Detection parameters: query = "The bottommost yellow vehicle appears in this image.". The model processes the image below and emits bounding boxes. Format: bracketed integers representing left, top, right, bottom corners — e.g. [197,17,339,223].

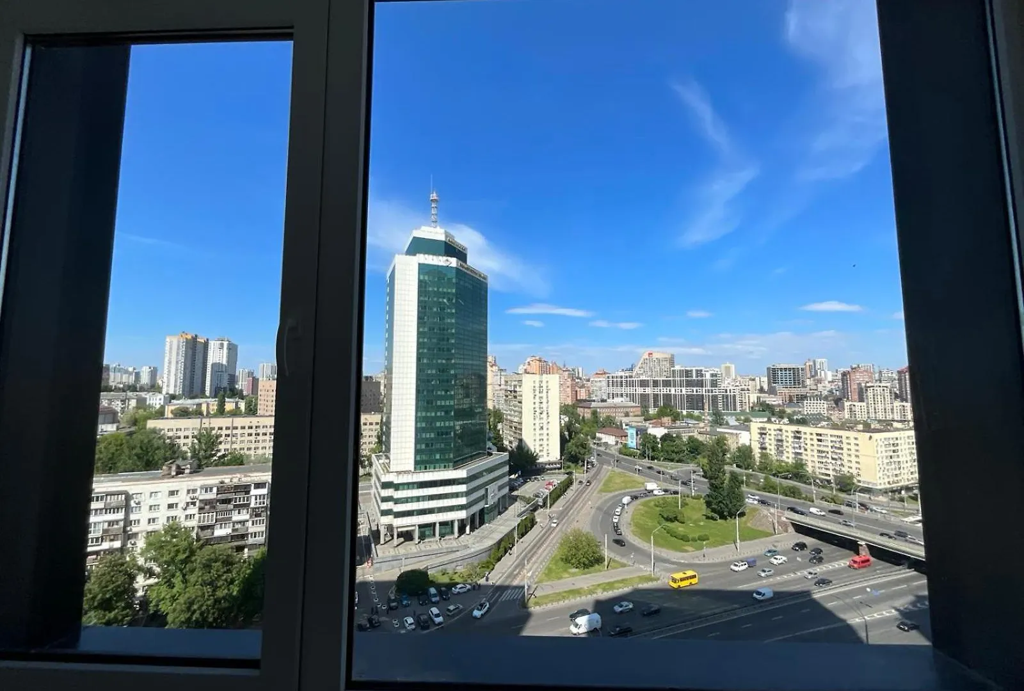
[669,566,698,588]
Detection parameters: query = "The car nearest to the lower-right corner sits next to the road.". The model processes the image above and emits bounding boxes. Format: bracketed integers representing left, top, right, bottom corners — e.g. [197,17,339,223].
[893,618,921,632]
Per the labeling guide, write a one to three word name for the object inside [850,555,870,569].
vehicle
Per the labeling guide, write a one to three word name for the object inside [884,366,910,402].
building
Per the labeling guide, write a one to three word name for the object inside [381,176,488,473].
building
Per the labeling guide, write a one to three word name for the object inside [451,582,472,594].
vehicle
